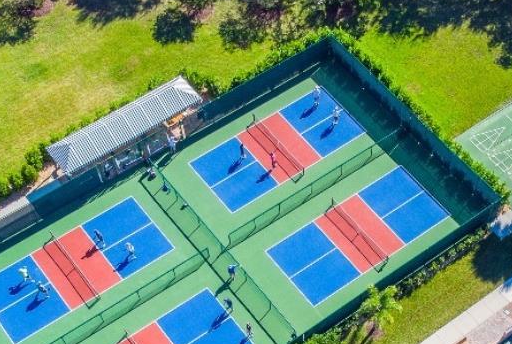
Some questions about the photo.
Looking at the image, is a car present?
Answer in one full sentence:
No, I find no car anywhere in the image.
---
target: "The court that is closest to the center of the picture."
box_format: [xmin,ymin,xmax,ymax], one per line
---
[190,88,367,213]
